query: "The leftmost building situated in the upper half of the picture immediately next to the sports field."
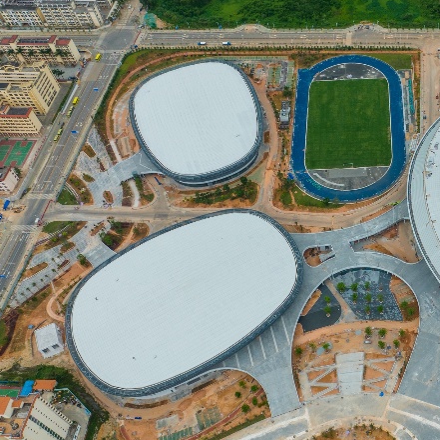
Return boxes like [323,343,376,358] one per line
[128,59,264,190]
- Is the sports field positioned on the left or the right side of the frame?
right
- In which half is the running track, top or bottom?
top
